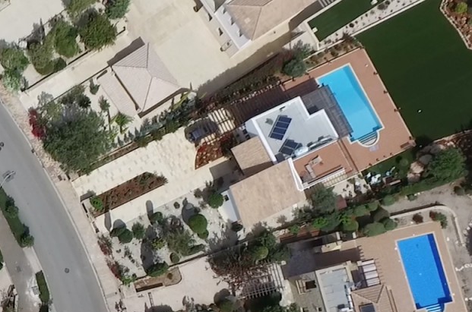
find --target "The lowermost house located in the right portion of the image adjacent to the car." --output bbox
[222,96,355,227]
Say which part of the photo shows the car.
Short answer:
center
